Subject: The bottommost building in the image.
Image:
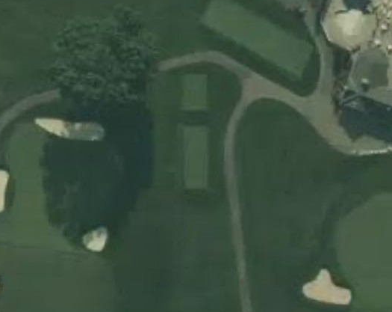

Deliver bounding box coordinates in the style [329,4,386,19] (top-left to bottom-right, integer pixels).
[332,49,392,129]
